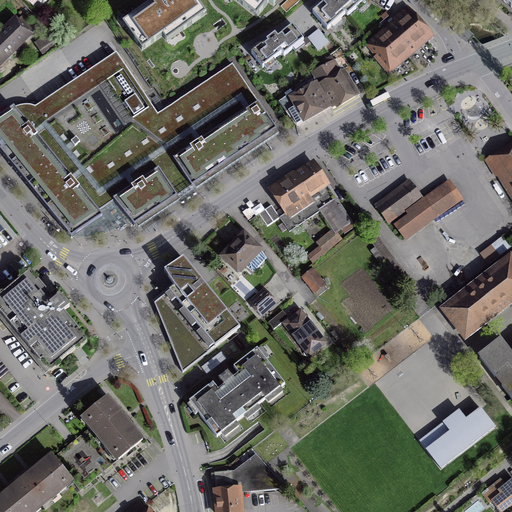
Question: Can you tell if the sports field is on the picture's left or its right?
right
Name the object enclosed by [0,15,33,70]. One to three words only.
house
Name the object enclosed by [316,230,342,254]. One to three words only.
barn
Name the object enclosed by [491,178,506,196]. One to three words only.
vehicle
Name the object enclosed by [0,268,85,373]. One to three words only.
building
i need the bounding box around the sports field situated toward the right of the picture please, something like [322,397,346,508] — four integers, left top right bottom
[290,384,512,512]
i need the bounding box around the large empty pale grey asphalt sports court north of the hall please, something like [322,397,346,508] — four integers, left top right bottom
[376,306,486,438]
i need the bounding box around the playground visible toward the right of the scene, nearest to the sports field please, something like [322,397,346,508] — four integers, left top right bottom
[357,319,432,386]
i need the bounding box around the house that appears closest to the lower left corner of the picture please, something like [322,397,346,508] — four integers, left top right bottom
[0,452,74,512]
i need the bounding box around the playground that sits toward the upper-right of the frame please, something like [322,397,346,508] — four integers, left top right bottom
[456,89,500,138]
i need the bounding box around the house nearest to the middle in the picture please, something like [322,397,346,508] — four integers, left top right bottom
[218,230,264,277]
